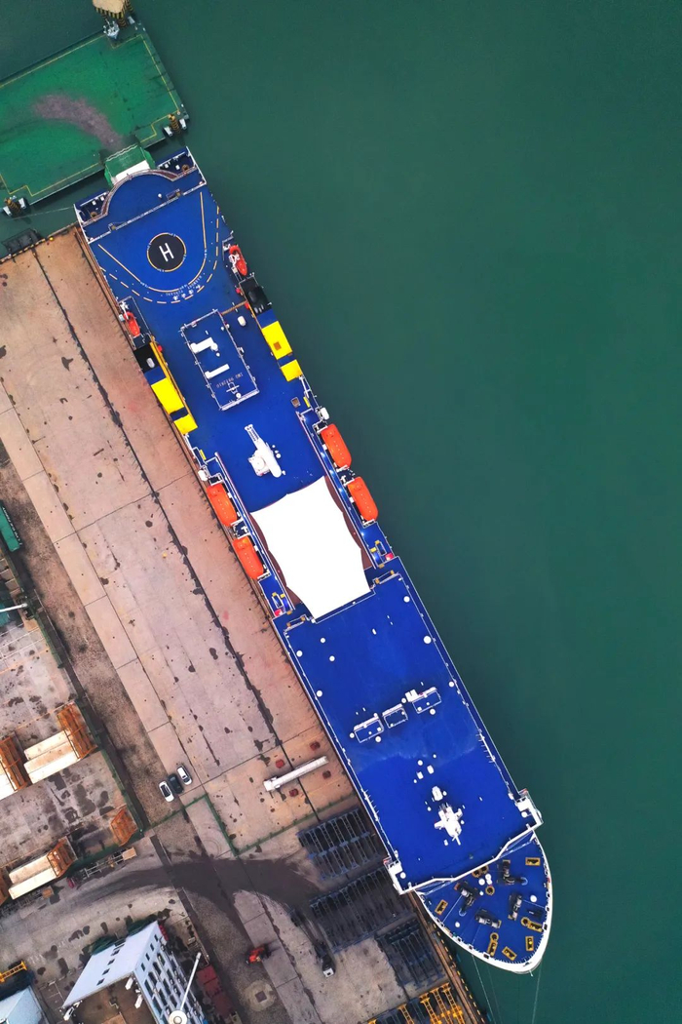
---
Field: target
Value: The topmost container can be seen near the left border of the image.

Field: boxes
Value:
[0,502,28,556]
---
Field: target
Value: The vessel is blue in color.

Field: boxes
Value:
[71,144,554,976]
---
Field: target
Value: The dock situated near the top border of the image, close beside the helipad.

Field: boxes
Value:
[0,13,189,208]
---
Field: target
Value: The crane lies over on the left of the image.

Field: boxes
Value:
[245,422,281,478]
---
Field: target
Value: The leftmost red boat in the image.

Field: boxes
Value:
[121,311,141,339]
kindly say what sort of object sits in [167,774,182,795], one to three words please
car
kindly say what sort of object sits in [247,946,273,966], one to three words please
work vehicle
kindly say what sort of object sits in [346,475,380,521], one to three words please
boat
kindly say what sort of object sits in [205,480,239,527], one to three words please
boat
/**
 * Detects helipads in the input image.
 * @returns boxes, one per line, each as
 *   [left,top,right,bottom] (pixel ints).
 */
[92,186,219,303]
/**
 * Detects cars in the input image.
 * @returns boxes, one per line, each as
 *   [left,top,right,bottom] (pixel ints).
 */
[176,766,191,787]
[158,782,173,803]
[167,774,182,795]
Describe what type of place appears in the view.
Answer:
port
